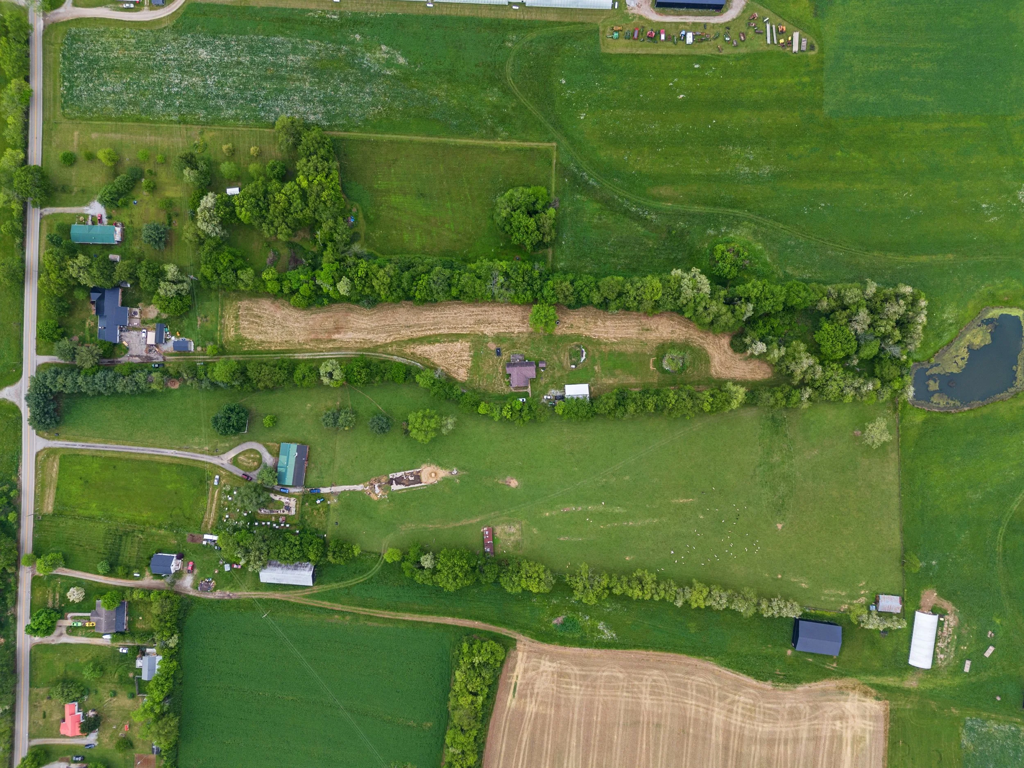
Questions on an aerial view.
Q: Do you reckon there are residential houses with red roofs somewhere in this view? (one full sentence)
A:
Yes, this view includes a residential house with a red roof.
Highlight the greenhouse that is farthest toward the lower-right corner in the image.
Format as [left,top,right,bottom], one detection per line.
[908,612,940,671]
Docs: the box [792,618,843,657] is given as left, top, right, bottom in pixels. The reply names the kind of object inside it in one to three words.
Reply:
barn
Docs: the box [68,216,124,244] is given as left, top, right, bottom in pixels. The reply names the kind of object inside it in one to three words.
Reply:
house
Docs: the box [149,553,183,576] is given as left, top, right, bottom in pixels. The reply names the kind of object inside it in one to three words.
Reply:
house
